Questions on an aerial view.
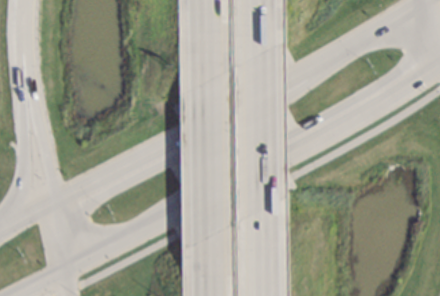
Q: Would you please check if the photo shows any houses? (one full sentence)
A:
No, the photo shows no house.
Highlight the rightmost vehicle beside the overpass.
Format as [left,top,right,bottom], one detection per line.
[300,116,322,130]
